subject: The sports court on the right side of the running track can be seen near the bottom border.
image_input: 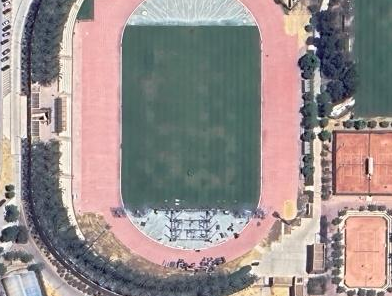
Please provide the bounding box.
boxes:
[339,210,392,290]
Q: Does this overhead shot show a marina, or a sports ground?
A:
sports ground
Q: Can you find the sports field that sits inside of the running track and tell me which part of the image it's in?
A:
center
